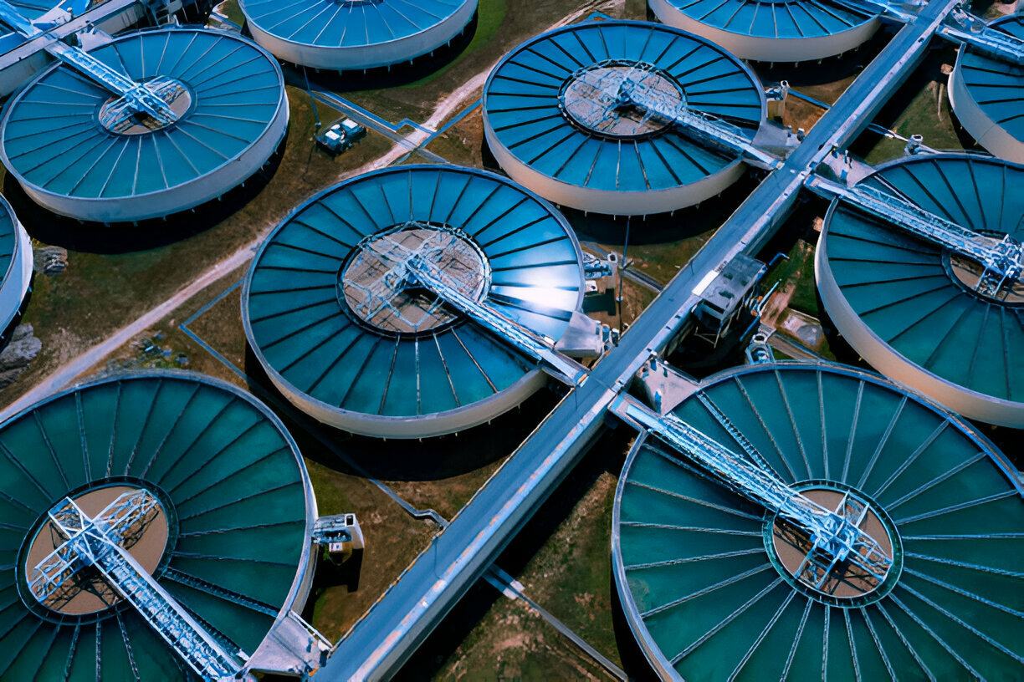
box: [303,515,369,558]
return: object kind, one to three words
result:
building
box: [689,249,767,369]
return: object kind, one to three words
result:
building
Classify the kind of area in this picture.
industrial area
